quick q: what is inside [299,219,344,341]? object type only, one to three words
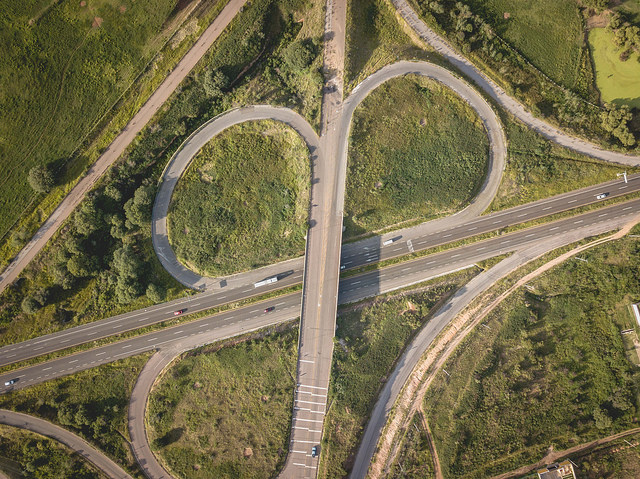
bridge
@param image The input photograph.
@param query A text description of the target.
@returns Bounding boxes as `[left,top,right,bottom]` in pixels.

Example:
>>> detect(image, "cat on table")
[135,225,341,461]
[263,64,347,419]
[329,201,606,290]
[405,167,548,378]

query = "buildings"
[536,458,576,479]
[629,300,640,326]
